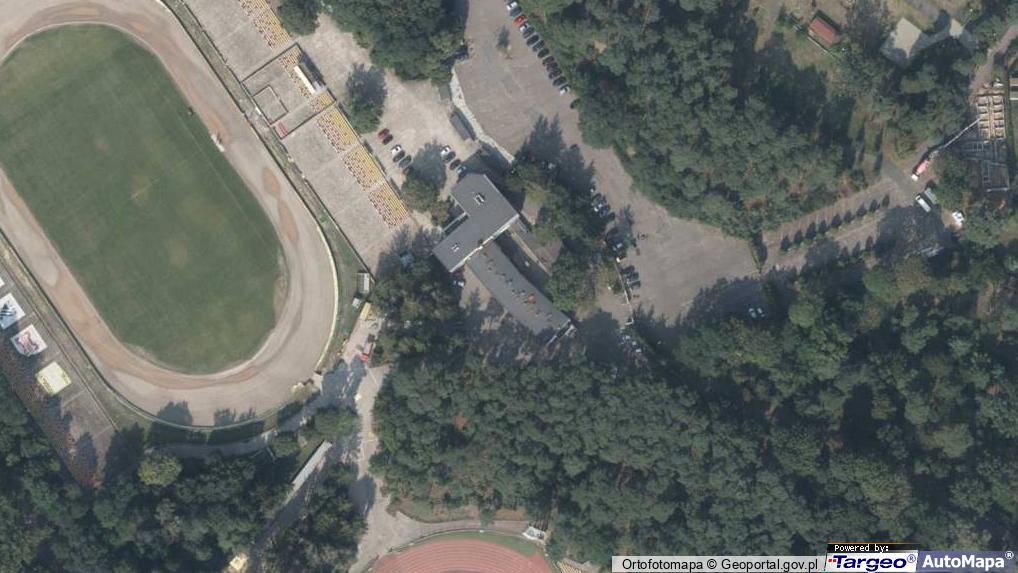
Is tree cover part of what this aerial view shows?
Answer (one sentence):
Yes, some tree cover is visible.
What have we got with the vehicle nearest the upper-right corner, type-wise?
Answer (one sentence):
The vehicle nearest the upper-right corner in the image is a truck.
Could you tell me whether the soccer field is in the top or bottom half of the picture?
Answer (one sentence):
The top half of the photo is where the soccer field is.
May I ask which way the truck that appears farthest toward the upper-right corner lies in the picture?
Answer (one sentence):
The truck that appears farthest toward the upper-right corner has been laid out diagonally relative to the frame.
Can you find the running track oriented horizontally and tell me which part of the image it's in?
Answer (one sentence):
The running track oriented horizontally sits in the bottom section of the image.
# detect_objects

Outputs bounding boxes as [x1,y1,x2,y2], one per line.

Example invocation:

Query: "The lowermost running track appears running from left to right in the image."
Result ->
[375,531,557,573]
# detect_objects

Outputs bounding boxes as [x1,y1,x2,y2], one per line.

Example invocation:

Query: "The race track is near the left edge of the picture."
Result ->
[0,0,336,426]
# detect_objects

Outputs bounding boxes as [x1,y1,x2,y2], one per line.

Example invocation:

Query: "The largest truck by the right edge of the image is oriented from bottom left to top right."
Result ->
[912,116,981,180]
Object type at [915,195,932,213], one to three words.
vehicle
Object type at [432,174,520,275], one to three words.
building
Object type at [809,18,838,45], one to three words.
house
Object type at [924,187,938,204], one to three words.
vehicle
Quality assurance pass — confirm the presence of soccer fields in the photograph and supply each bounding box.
[0,22,286,374]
